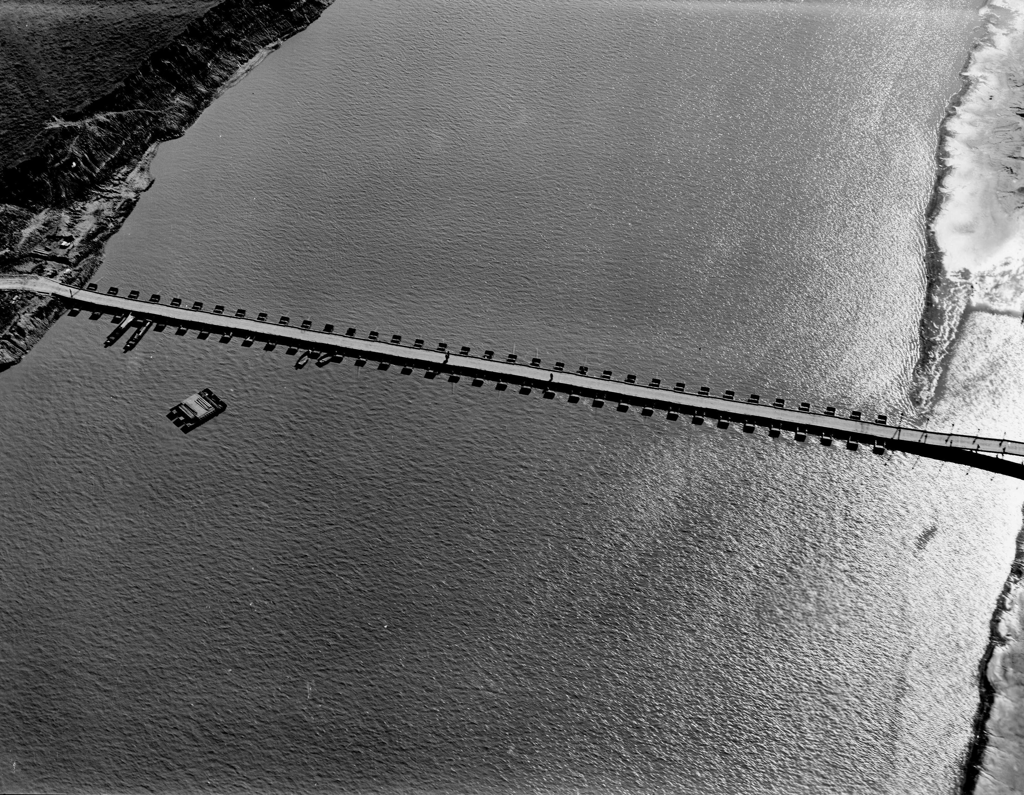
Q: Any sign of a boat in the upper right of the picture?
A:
No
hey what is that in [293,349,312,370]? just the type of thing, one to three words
boat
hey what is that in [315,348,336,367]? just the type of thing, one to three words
boat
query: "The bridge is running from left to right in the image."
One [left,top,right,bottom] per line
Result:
[32,277,1024,463]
